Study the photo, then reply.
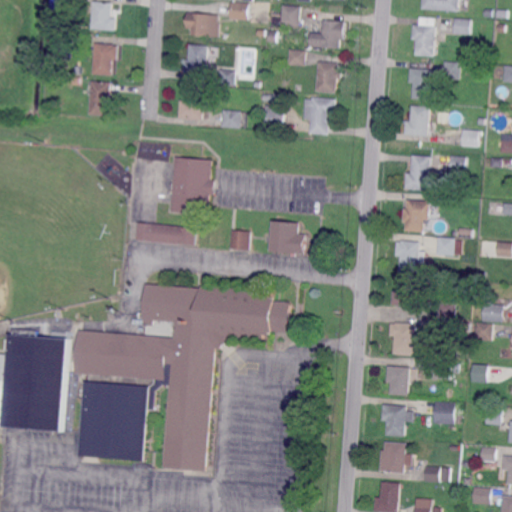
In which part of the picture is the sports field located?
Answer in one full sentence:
The sports field is located in the left region of the scene.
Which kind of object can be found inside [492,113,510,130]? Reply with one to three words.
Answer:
swimming pool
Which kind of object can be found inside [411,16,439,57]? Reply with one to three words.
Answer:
house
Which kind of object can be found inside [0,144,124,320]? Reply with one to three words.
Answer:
sports field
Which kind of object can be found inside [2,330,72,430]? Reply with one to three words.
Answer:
building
